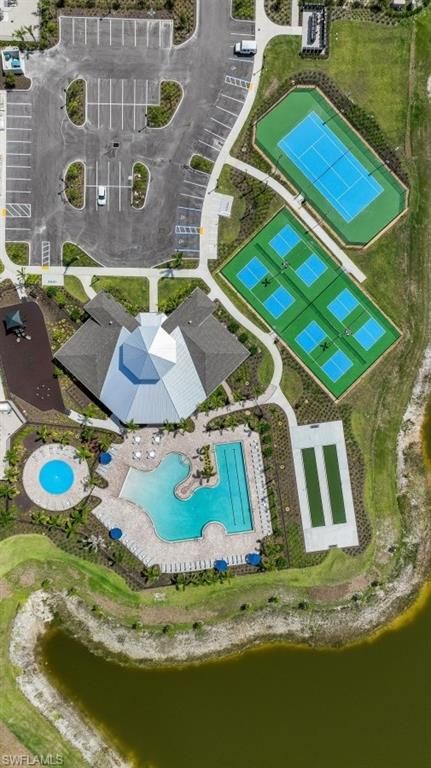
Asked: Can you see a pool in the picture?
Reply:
Yes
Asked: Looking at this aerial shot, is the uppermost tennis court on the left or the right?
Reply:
right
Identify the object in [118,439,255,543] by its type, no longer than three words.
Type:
swimming pool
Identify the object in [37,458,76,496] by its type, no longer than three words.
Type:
swimming pool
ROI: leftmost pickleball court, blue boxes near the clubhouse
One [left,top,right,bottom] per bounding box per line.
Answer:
[236,256,296,319]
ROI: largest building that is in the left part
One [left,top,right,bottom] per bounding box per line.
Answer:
[54,287,250,424]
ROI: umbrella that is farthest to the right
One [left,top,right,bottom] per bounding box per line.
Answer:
[246,552,260,566]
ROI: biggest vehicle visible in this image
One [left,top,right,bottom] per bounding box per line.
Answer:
[234,42,258,56]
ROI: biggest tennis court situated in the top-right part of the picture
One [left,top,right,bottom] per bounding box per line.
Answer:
[253,86,409,248]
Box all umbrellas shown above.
[214,558,228,572]
[100,452,112,464]
[246,552,260,566]
[109,526,122,539]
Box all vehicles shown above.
[234,42,258,56]
[97,187,107,208]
